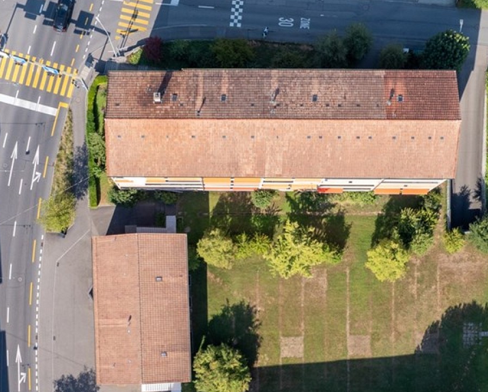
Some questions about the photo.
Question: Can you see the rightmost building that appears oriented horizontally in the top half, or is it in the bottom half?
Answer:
top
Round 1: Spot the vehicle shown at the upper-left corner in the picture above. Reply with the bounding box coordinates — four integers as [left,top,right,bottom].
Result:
[54,0,73,33]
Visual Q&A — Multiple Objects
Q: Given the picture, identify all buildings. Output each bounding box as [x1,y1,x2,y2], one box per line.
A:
[105,70,461,197]
[89,216,191,392]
